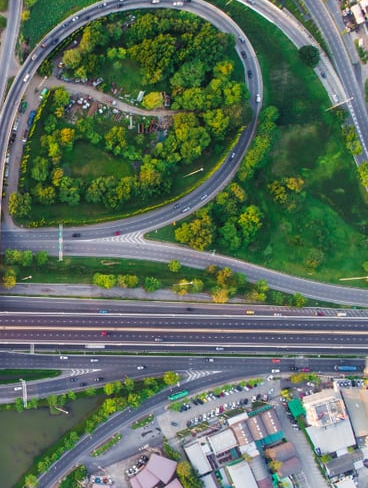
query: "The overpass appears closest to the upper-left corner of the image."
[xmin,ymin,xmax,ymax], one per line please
[0,0,264,260]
